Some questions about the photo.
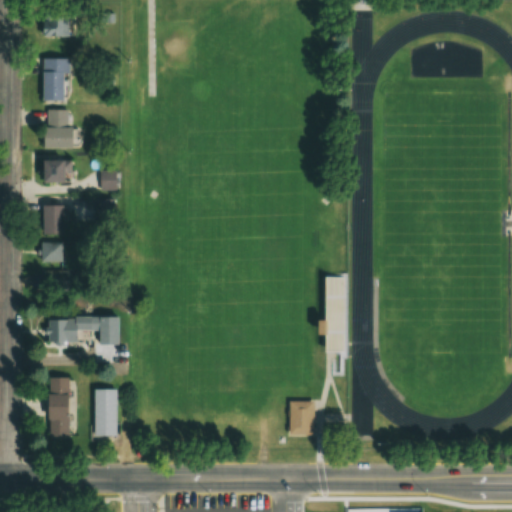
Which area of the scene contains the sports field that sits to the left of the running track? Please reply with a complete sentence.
Look in the center portion of the view to spot the sports field that sits to the left of the running track.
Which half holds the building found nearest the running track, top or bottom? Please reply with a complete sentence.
Seen from above, the building found nearest the running track lies in the bottom half of the view.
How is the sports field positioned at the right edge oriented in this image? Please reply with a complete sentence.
In this picture, the sports field positioned at the right edge lies from top to bottom.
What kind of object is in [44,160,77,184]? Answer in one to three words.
house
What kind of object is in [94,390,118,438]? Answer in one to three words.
barn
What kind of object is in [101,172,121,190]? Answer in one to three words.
building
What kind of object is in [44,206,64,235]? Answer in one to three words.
house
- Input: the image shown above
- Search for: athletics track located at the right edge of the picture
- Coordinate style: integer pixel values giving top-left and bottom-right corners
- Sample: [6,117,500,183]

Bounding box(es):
[352,12,512,438]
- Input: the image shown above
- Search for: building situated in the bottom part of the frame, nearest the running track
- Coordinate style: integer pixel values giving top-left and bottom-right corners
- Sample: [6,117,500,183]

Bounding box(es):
[290,401,316,438]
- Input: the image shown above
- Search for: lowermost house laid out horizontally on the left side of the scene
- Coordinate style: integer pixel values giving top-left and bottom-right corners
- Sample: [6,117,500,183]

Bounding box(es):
[48,316,120,345]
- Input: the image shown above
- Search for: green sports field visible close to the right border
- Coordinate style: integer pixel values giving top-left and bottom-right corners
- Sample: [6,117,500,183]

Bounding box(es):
[384,90,501,355]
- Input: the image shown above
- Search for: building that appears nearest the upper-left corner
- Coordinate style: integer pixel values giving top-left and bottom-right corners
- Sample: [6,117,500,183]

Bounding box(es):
[44,17,70,36]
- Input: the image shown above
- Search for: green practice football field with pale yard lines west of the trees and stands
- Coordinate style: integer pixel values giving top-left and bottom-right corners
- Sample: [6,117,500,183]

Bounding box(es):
[187,108,304,394]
